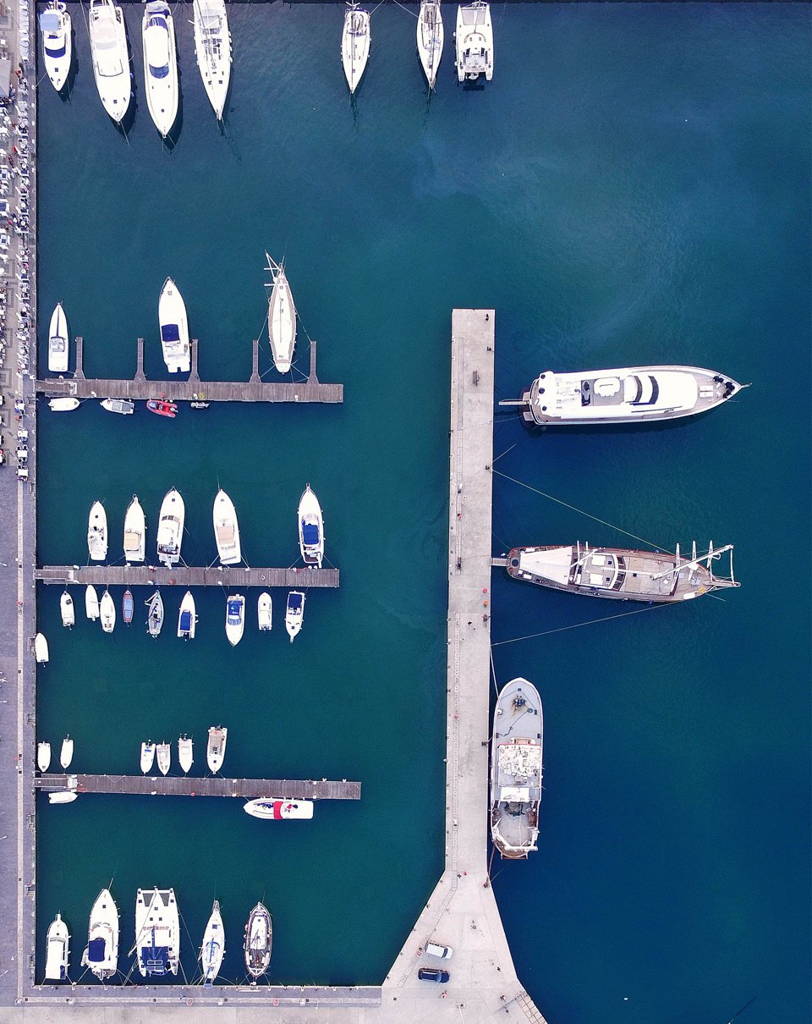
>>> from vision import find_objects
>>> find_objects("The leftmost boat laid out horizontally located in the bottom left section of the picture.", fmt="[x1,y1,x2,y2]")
[46,792,78,805]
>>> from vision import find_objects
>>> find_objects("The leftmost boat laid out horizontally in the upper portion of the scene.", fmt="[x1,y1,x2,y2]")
[47,397,80,411]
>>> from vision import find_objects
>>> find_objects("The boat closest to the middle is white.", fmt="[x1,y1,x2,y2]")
[297,484,326,568]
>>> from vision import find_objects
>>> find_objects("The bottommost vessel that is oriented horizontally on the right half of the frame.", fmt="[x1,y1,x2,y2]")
[491,537,741,604]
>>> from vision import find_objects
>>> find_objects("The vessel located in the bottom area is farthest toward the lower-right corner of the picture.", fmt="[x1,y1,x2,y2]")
[489,678,546,860]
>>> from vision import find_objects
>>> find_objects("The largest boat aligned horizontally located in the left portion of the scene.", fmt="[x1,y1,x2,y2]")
[243,797,315,819]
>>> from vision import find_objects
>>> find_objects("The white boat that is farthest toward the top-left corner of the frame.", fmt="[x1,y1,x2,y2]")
[40,0,74,92]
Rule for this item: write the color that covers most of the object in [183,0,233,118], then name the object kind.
white boat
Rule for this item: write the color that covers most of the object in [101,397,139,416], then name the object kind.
white boat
